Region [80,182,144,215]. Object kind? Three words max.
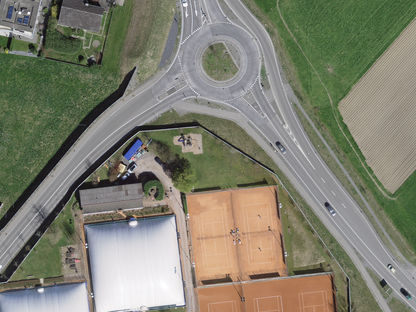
building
